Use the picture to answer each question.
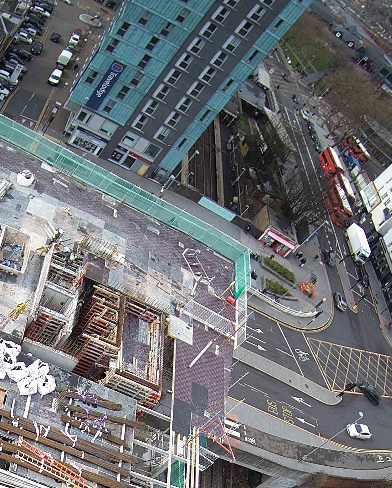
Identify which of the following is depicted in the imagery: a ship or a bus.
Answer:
bus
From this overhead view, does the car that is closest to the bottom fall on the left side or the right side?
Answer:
right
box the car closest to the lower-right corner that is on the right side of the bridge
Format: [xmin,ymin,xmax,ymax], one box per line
[348,420,376,441]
